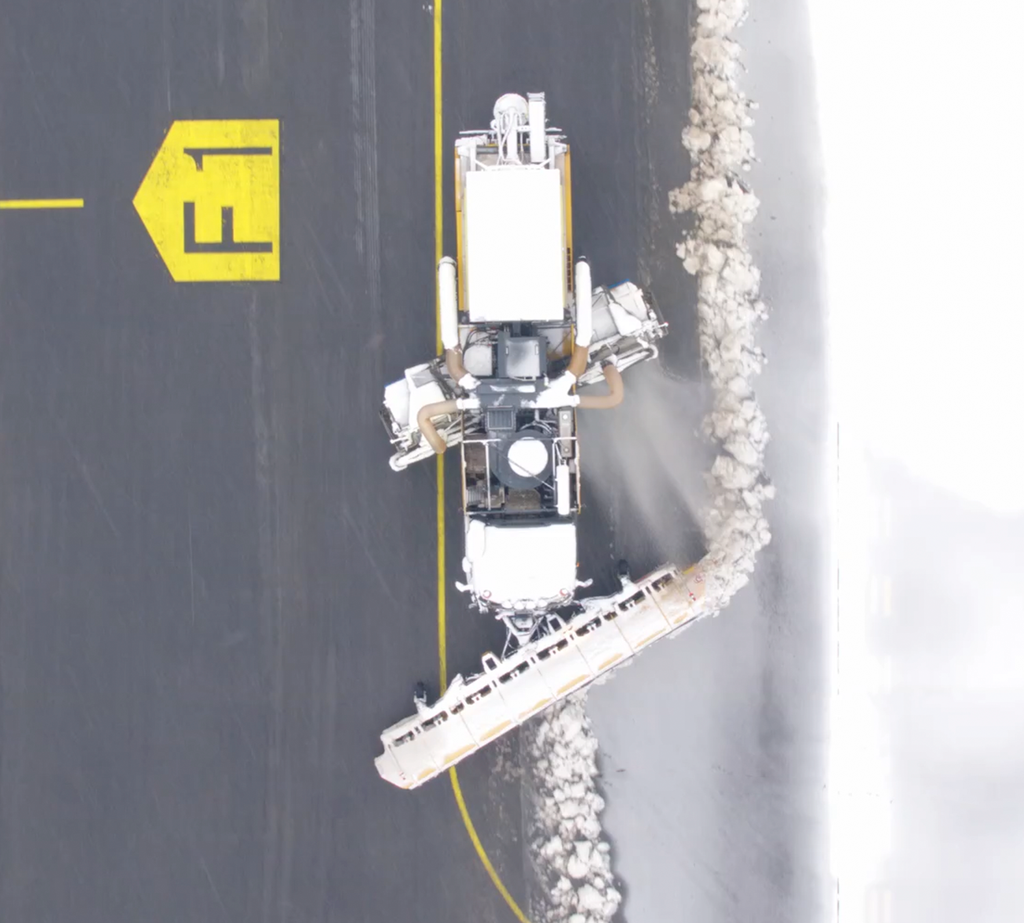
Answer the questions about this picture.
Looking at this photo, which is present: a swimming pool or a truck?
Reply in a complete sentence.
This aerial view contains a truck.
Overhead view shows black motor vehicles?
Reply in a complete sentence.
No, the scene contains no black motor vehicle.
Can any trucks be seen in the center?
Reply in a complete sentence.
Yes, you'll find a truck in the center.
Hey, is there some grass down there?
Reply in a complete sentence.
No, grass can't be seen anywhere here.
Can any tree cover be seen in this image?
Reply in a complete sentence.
No, no tree cover is visible.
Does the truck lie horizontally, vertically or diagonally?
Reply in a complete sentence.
In this picture, the truck lies vertically.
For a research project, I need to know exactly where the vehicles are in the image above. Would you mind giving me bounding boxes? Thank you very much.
[375,92,708,792]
